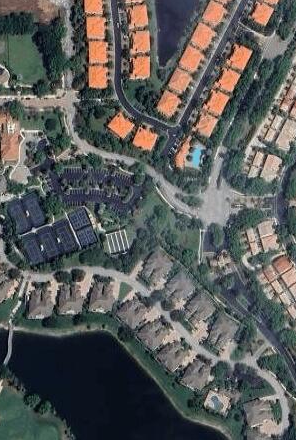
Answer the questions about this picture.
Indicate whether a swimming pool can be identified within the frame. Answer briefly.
Yes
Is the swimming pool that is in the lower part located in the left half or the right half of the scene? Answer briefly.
right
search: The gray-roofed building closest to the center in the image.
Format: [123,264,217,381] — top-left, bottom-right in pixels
[135,251,176,290]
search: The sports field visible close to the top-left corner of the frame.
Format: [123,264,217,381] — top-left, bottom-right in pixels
[0,32,47,85]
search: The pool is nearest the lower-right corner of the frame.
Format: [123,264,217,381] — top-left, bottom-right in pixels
[205,391,229,412]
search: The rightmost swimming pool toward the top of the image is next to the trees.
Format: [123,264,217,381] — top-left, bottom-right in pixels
[189,138,207,170]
